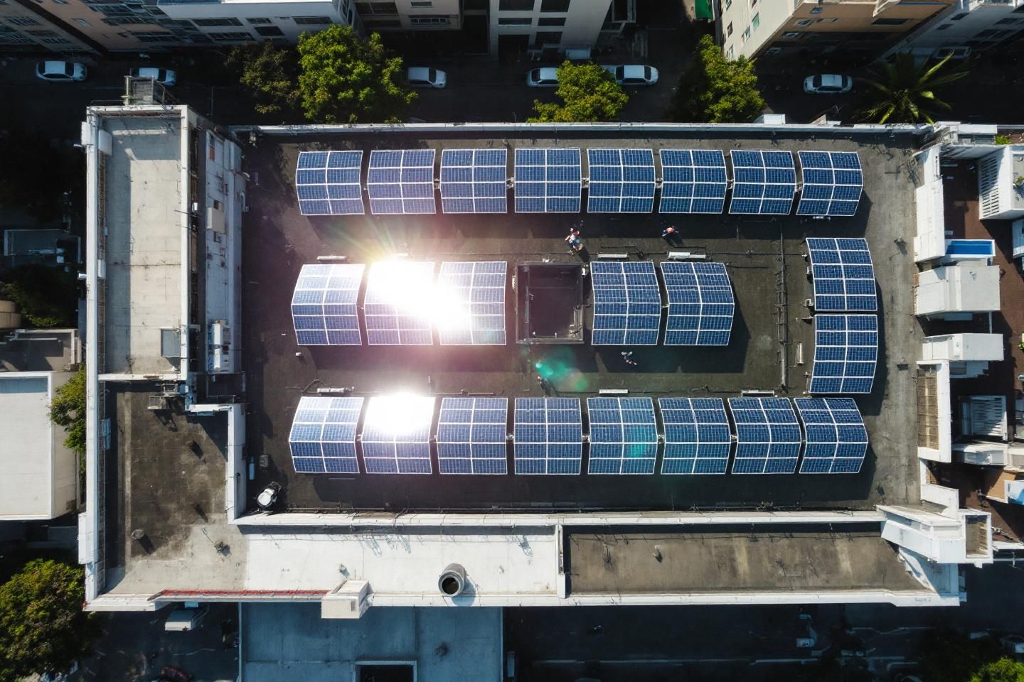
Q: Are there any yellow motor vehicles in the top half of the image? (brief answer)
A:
No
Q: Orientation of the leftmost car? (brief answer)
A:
from left to right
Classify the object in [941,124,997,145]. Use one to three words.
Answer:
building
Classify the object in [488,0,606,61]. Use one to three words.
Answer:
building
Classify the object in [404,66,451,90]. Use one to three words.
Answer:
car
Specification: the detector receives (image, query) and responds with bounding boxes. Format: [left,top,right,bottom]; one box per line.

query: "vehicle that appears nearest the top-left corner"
[38,58,90,84]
